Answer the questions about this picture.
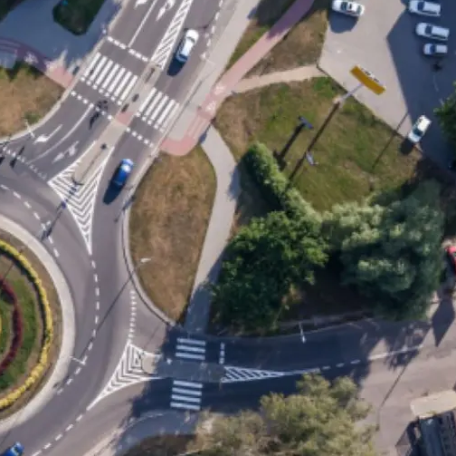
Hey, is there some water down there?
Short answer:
No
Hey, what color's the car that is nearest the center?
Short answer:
blue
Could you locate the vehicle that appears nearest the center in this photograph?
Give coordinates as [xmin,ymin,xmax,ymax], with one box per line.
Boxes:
[110,156,132,188]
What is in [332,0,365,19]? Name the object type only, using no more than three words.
car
